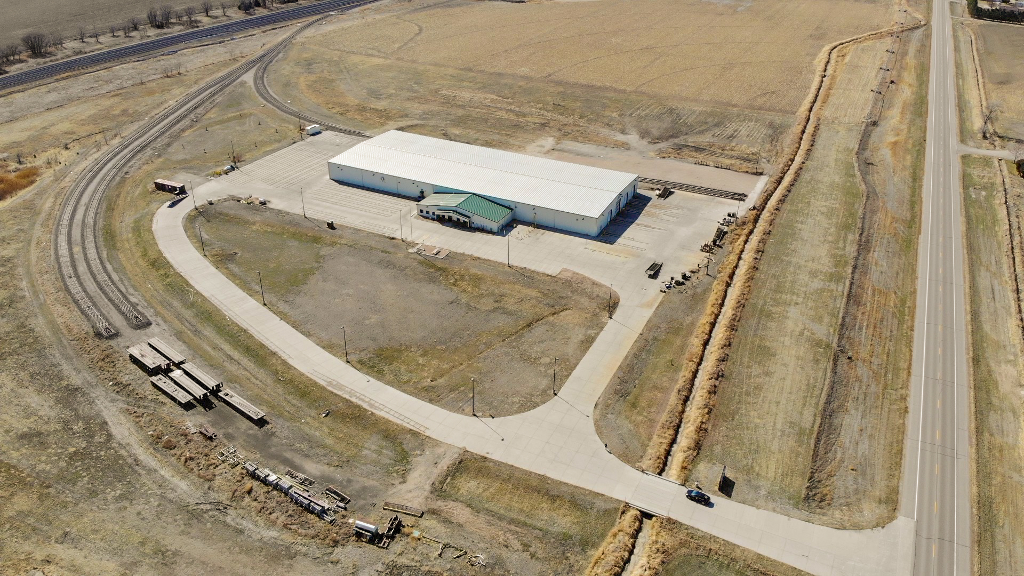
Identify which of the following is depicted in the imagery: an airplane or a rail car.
rail car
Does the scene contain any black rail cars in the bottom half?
No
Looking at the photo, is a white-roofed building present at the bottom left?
No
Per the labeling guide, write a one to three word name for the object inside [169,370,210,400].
rail car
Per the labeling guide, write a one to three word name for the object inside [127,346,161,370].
rail car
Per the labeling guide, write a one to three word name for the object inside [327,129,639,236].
building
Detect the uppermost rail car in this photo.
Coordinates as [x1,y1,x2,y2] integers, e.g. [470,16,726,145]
[151,175,185,194]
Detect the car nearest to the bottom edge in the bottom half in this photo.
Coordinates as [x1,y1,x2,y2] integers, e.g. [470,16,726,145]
[686,488,712,503]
